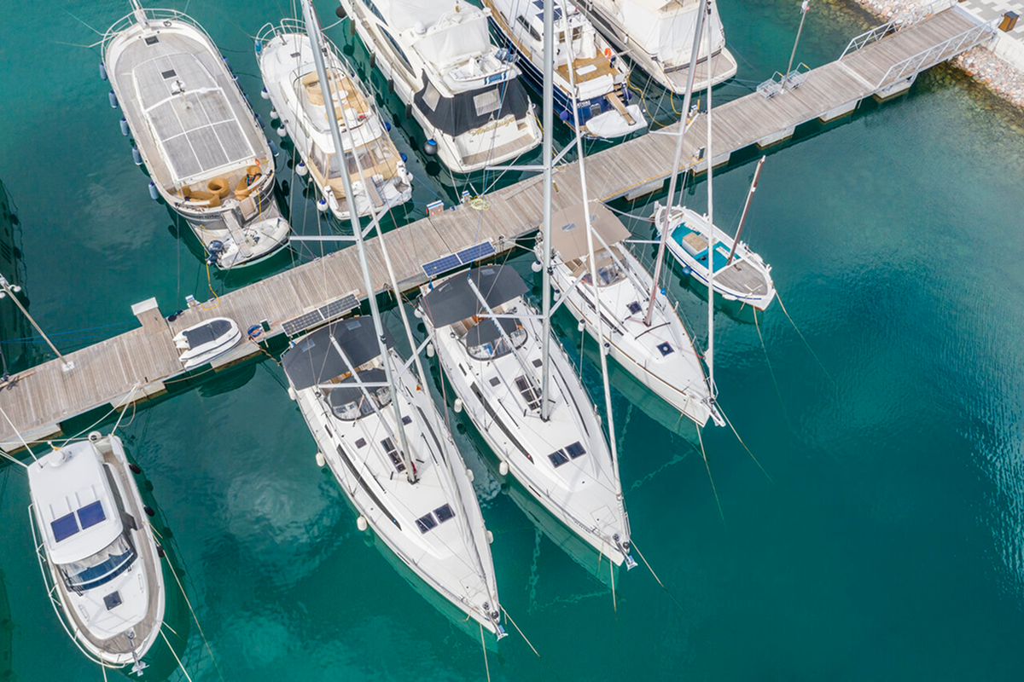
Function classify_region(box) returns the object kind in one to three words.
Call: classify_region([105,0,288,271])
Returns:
boat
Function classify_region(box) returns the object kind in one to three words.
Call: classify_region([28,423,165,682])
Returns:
boat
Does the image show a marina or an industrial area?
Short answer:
marina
